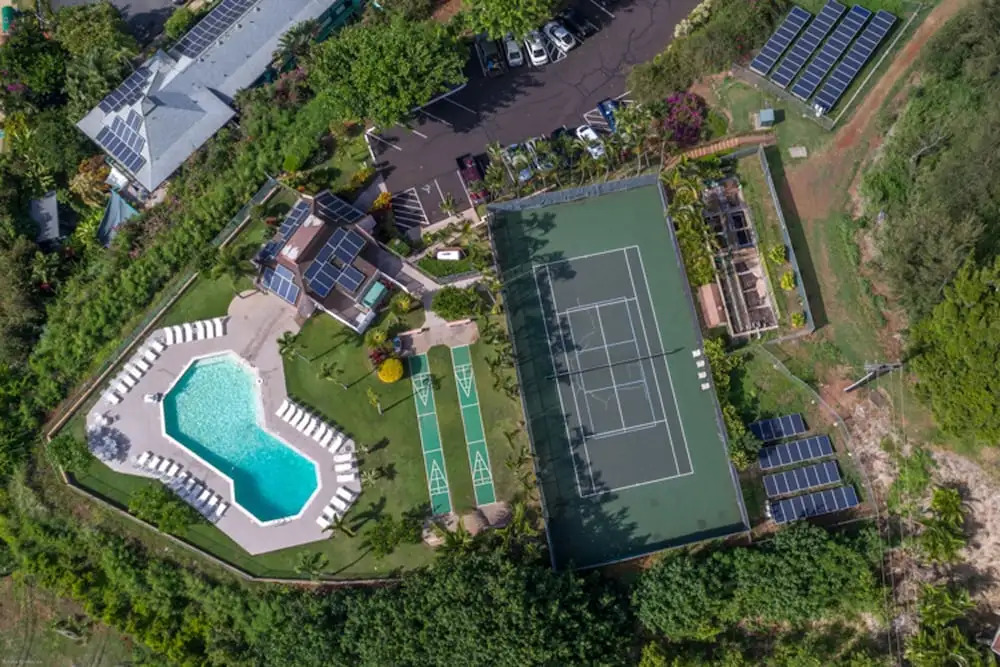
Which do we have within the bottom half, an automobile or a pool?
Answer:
pool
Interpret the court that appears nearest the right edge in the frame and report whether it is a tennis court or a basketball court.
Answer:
tennis court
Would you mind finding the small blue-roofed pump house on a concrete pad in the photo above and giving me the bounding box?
[751,109,774,130]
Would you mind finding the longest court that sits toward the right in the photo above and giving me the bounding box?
[489,185,741,564]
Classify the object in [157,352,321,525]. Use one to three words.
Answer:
swimming pool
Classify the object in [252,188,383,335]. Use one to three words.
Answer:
building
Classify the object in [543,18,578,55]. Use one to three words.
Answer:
car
